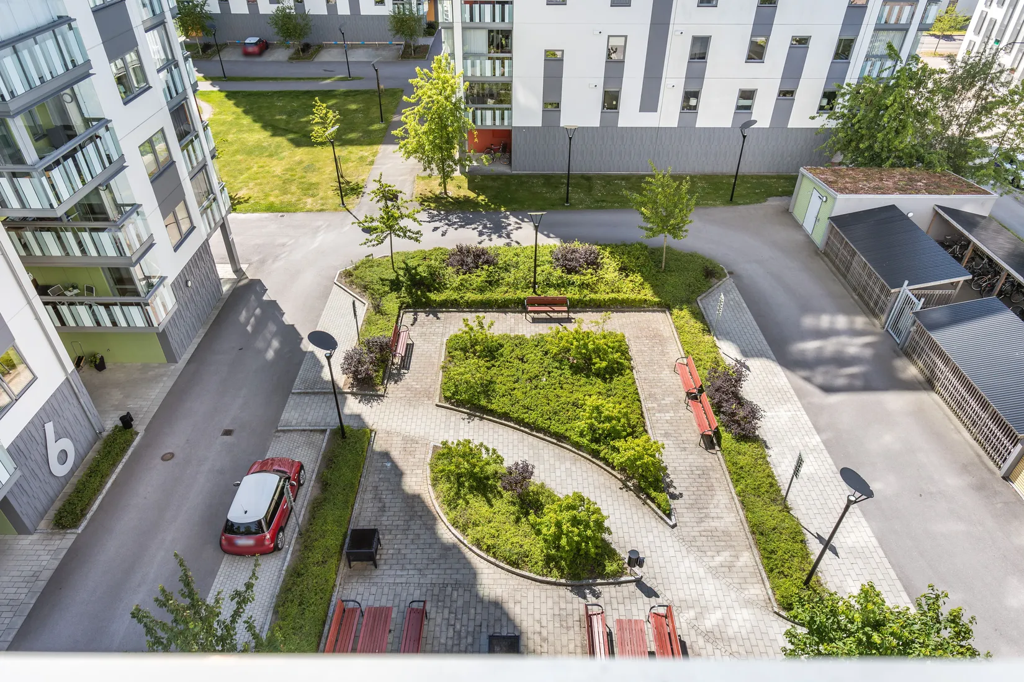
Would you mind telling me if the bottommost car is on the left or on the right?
left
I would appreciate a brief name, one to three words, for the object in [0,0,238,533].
building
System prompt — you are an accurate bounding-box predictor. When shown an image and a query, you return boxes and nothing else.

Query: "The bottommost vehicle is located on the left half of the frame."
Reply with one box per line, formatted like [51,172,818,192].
[216,459,305,564]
